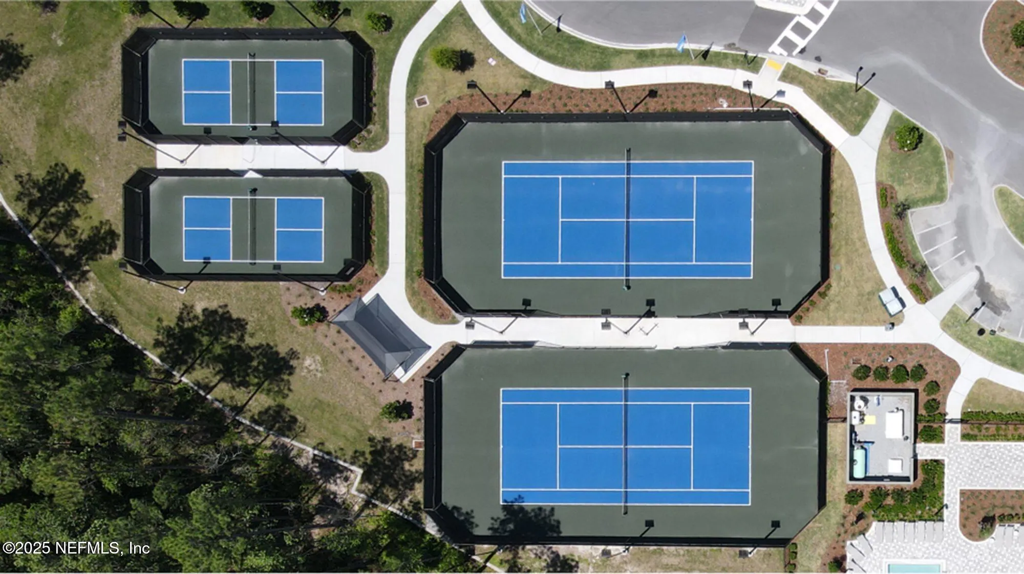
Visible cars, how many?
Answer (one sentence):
The count of cars is 0.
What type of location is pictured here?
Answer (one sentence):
The area seen from above is a sports ground.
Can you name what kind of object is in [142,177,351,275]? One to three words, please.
sports court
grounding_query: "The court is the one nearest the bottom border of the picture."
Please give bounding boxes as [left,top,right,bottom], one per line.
[434,349,819,545]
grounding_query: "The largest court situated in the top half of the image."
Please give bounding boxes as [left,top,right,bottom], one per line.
[434,121,822,317]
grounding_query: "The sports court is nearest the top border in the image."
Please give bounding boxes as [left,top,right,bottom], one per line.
[141,39,352,143]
